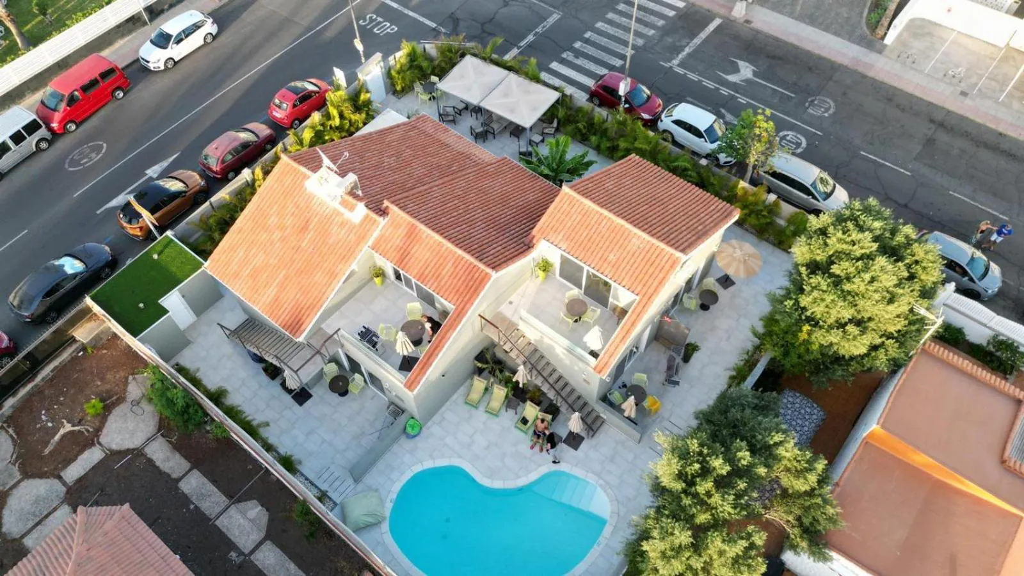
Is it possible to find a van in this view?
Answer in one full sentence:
Yes, looking at the shot, I can spot a van.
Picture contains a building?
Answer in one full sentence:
Yes, there's a building here.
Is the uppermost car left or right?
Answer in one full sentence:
It is on the left.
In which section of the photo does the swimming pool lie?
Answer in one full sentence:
You can find the swimming pool in the bottom area of the picture.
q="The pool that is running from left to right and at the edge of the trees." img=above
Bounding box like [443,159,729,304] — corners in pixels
[380,457,619,576]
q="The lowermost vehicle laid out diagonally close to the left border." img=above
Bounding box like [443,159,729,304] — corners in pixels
[5,226,120,317]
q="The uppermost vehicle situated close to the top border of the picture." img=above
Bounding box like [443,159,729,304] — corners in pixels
[134,10,218,74]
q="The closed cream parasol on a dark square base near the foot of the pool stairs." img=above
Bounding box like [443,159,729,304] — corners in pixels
[561,419,587,454]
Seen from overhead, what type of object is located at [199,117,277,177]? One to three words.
car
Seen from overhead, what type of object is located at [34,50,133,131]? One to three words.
van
